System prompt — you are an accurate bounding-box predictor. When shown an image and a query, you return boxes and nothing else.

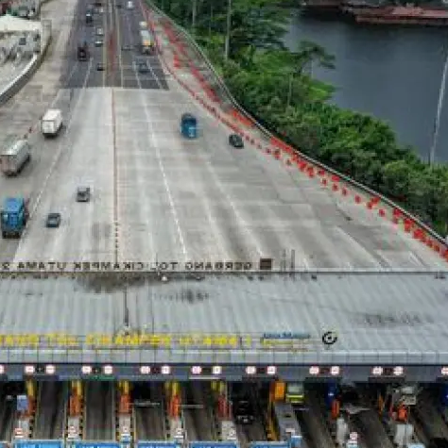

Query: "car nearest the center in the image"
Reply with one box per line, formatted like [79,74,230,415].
[226,132,242,145]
